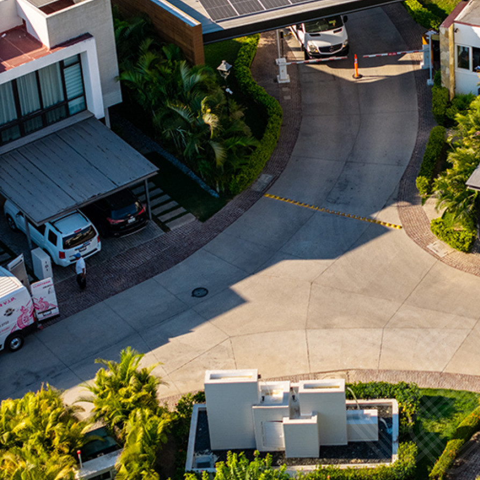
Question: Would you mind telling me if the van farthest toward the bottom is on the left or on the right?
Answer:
left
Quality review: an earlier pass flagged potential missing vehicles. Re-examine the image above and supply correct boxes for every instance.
[2,202,101,267]
[78,188,147,237]
[306,17,353,58]
[0,268,56,364]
